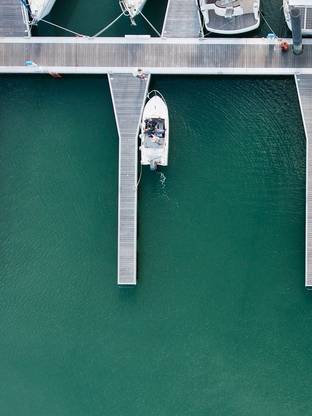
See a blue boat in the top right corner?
No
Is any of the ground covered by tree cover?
No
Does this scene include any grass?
No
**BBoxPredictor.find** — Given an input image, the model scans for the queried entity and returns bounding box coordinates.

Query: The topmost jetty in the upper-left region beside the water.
[0,0,33,37]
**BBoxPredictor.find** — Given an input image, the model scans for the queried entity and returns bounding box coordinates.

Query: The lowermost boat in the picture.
[141,91,171,171]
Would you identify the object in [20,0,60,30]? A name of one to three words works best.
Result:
boat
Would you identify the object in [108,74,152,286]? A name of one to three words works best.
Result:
pier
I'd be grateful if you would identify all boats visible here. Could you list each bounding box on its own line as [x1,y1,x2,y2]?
[141,91,171,171]
[20,0,60,30]
[200,0,261,36]
[283,0,312,39]
[119,0,148,27]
